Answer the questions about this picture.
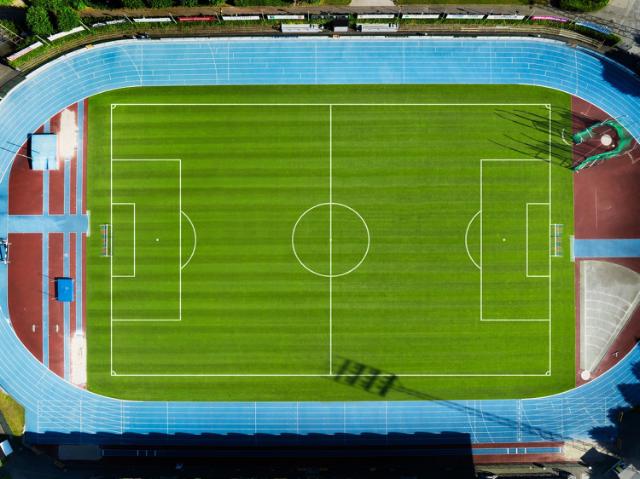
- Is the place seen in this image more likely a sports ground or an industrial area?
sports ground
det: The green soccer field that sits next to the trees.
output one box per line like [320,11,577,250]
[87,84,576,401]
